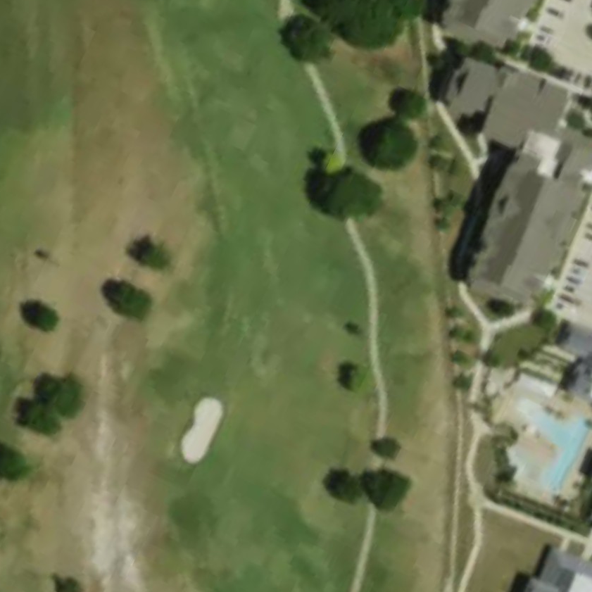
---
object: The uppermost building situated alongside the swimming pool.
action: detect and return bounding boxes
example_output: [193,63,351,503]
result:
[446,58,592,310]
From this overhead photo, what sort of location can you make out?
golf course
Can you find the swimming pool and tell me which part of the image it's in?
bottom right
